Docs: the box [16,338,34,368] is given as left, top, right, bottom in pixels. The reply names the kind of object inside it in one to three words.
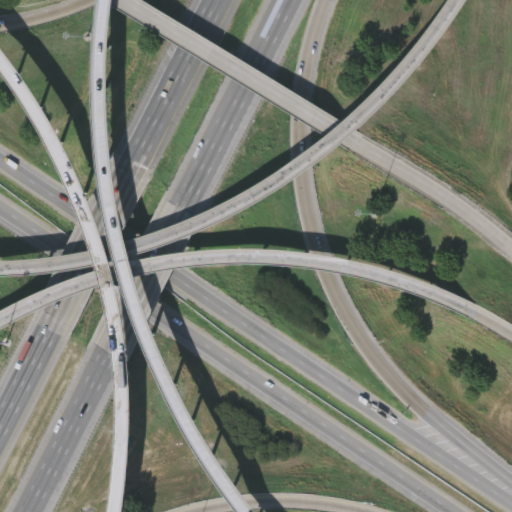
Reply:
vehicle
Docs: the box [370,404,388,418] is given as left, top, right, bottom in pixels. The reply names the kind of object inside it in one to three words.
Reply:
vehicle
